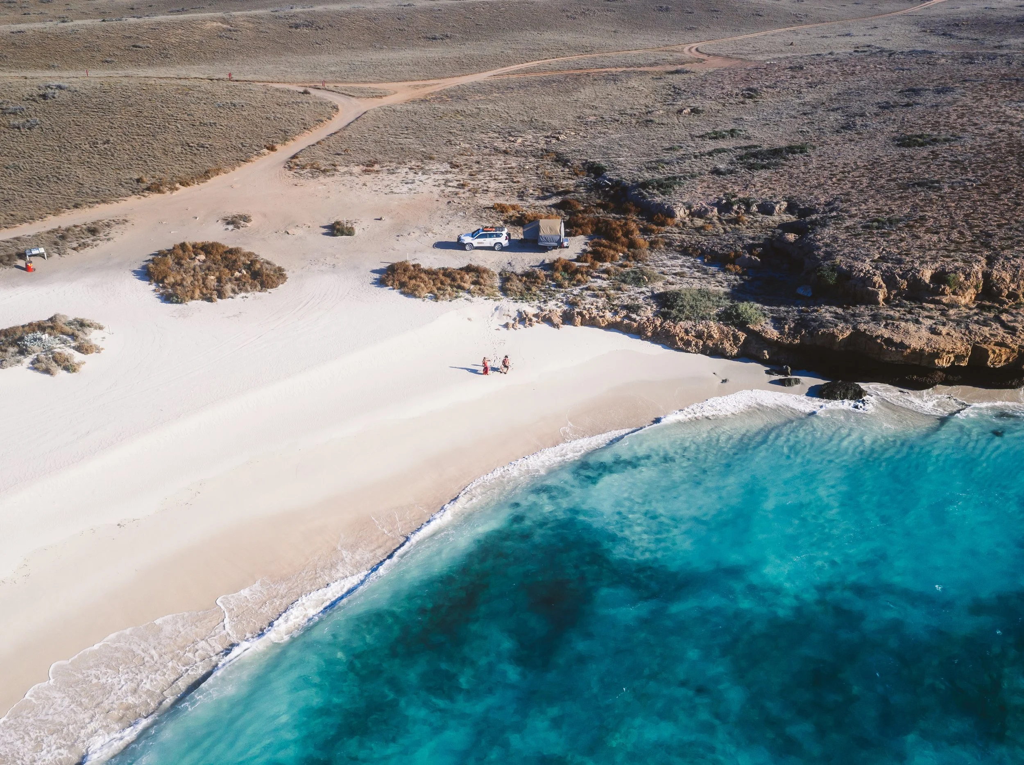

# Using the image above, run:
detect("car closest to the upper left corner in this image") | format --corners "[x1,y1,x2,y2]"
[455,223,512,251]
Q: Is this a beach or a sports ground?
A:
beach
